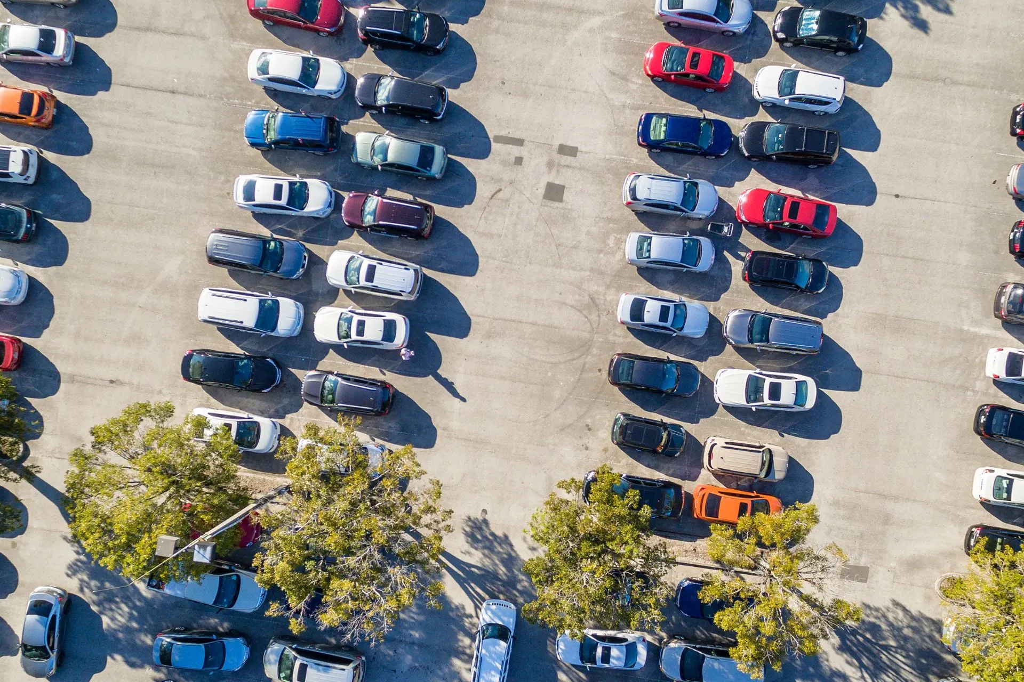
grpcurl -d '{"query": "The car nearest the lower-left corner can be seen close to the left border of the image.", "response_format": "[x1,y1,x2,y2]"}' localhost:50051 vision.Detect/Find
[14,584,75,675]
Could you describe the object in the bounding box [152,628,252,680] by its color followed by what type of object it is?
blue car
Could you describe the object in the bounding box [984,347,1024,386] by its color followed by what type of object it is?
white car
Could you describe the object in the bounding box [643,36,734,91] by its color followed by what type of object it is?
red car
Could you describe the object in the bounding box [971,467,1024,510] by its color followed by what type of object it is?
white car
